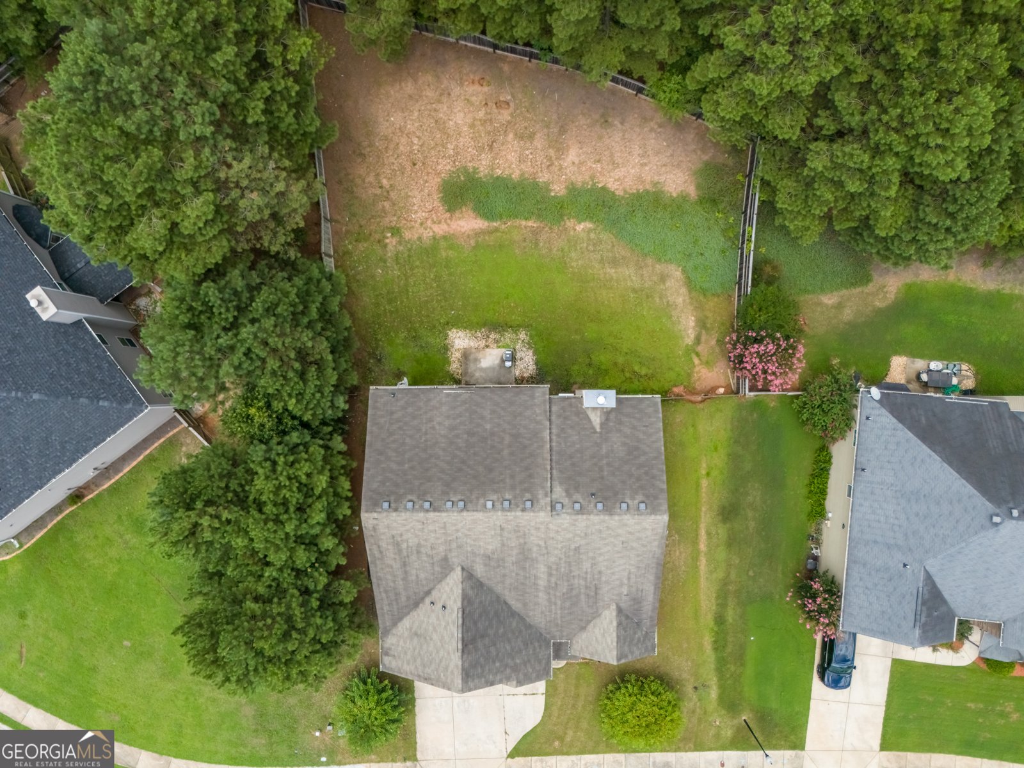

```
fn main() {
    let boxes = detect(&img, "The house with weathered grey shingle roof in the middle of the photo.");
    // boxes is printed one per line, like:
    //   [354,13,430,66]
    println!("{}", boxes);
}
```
[361,385,668,693]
